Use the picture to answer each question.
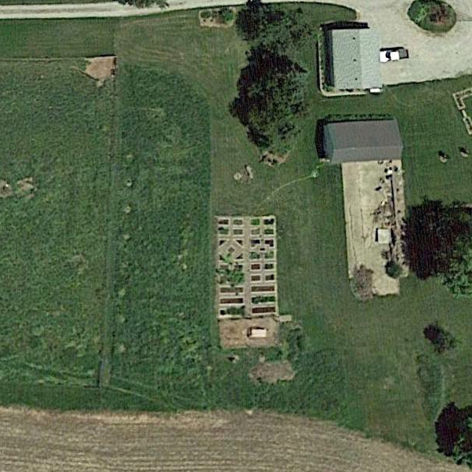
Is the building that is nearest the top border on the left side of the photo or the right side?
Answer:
right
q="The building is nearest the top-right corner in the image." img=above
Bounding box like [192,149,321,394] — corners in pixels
[325,29,381,90]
